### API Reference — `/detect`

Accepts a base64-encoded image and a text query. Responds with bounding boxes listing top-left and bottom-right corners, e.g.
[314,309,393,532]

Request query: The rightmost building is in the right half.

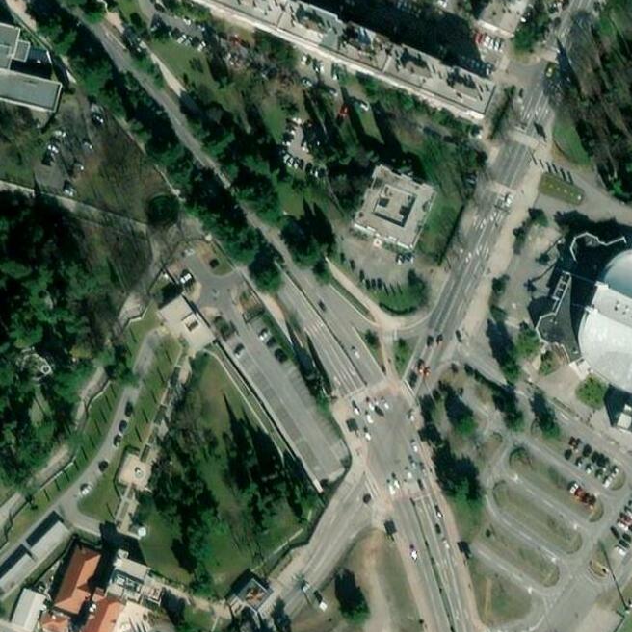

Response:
[570,232,626,279]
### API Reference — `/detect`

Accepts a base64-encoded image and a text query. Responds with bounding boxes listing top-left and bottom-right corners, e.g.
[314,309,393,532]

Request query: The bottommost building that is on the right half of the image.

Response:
[535,272,589,365]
